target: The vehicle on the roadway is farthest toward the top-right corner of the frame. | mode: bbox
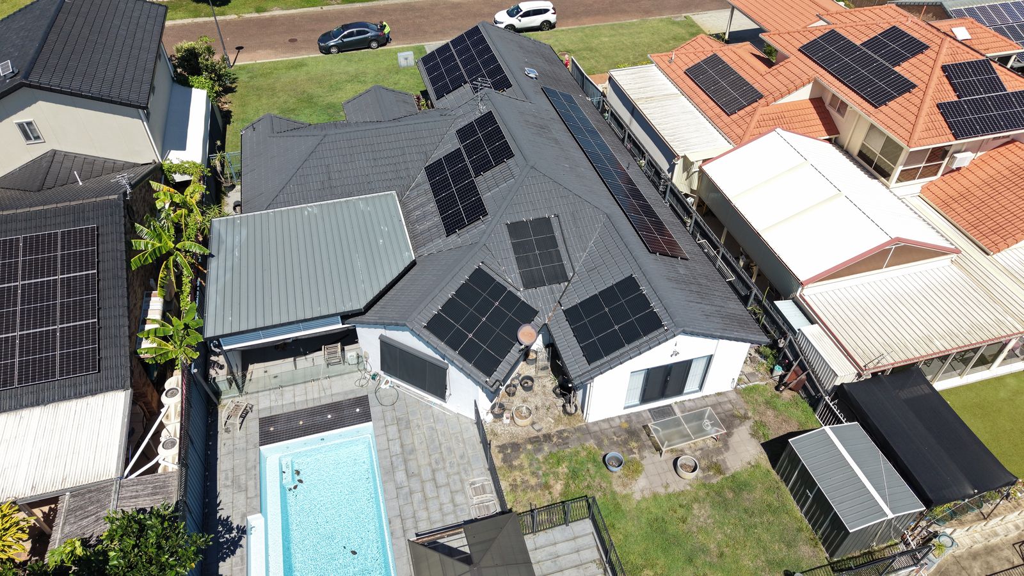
[493,0,557,32]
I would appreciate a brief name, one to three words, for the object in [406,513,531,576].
gazebo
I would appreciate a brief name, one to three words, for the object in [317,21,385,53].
car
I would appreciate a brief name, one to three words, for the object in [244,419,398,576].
swimming pool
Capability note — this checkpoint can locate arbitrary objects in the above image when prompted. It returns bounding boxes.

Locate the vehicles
[317,21,385,53]
[493,0,557,32]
